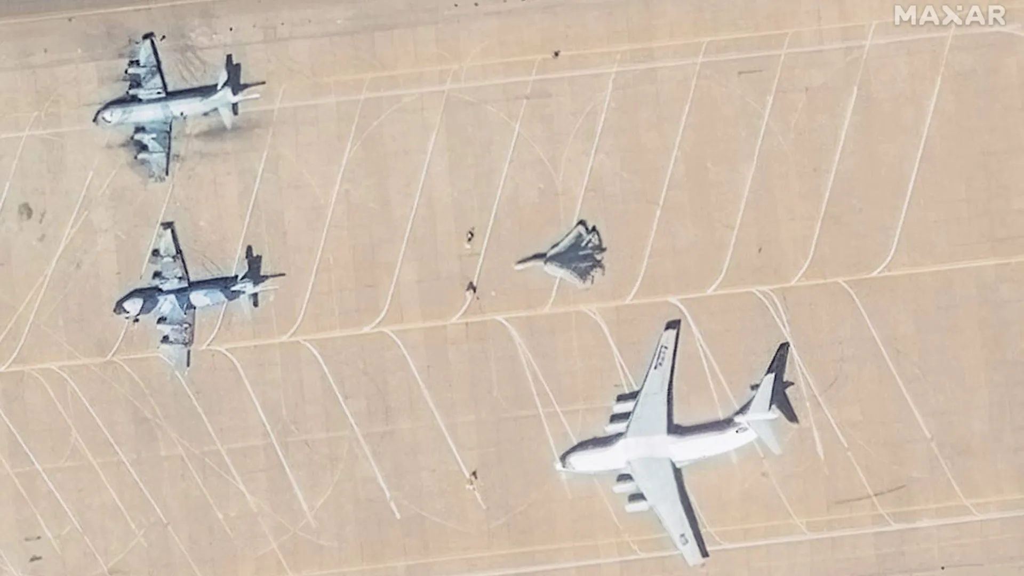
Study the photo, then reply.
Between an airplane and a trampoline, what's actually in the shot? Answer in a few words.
airplane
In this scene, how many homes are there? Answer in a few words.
0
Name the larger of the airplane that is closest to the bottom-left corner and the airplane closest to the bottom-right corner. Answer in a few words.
the airplane closest to the bottom-right corner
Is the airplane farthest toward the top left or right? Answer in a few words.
left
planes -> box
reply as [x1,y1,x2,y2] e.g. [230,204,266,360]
[118,231,282,374]
[514,226,603,286]
[97,39,261,182]
[554,328,785,565]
